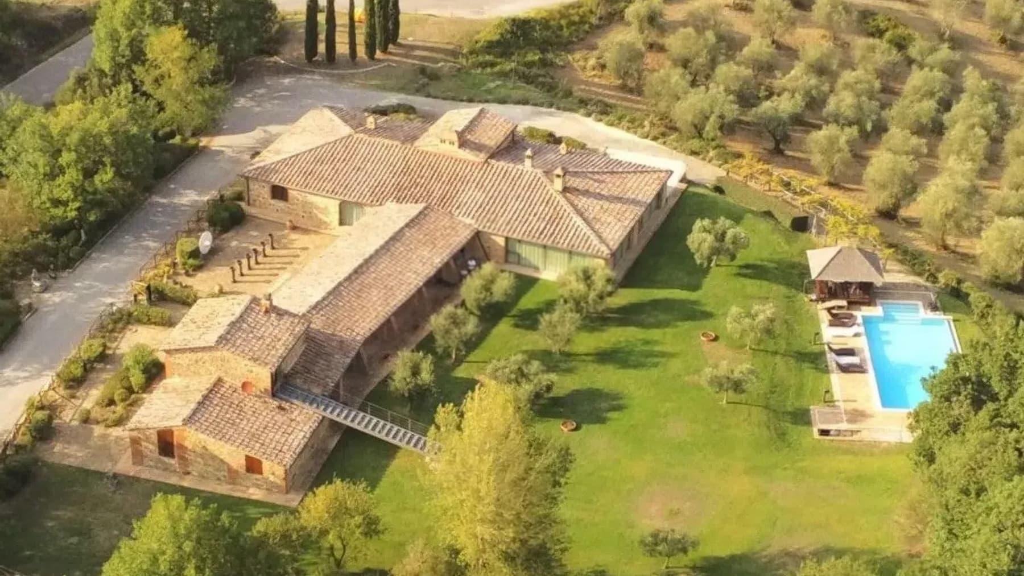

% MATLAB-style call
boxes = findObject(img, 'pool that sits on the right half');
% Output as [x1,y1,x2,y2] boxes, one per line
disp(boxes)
[852,301,966,416]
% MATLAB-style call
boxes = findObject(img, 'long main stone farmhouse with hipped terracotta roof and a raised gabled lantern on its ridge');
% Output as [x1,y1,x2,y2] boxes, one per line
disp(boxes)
[238,105,671,276]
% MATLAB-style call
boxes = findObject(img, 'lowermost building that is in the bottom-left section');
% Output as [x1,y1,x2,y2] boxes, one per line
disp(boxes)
[114,369,323,493]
